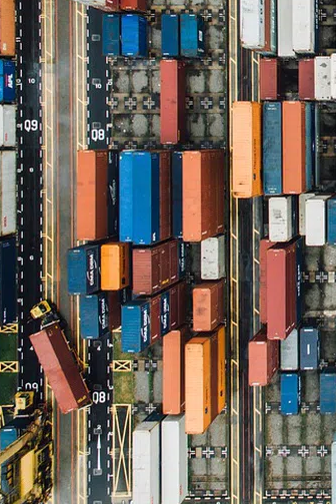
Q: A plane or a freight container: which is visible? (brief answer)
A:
freight container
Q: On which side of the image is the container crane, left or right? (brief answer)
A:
left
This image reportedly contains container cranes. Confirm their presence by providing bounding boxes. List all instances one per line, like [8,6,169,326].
[0,409,56,504]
